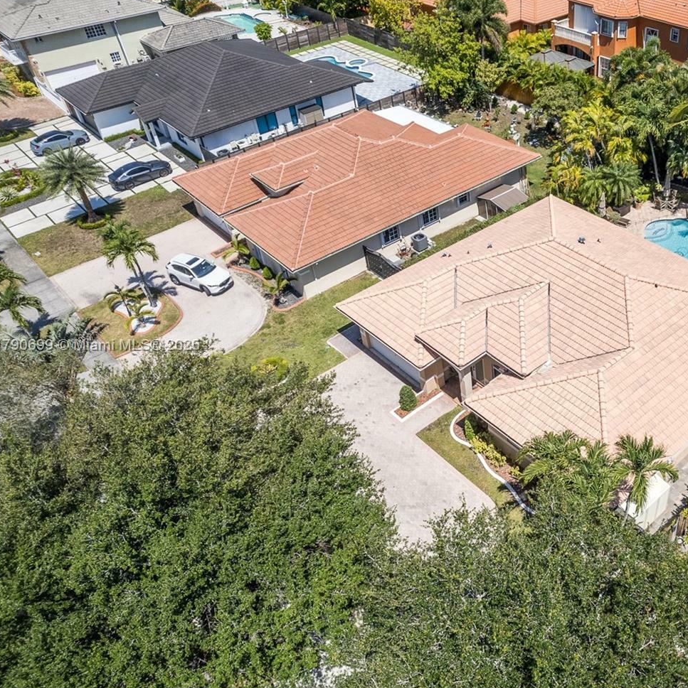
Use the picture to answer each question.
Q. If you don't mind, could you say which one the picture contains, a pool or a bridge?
pool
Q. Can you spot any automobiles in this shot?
Yes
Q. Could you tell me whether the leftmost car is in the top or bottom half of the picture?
top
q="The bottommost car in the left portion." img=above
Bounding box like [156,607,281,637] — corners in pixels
[160,250,236,297]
